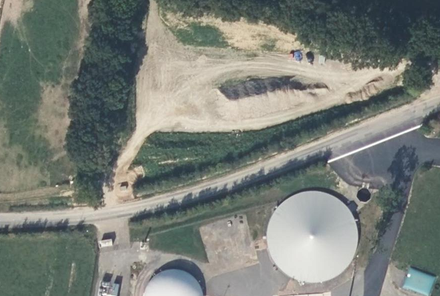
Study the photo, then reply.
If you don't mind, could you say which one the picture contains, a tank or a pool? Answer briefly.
tank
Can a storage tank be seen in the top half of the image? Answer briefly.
No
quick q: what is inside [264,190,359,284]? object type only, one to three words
storage tank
